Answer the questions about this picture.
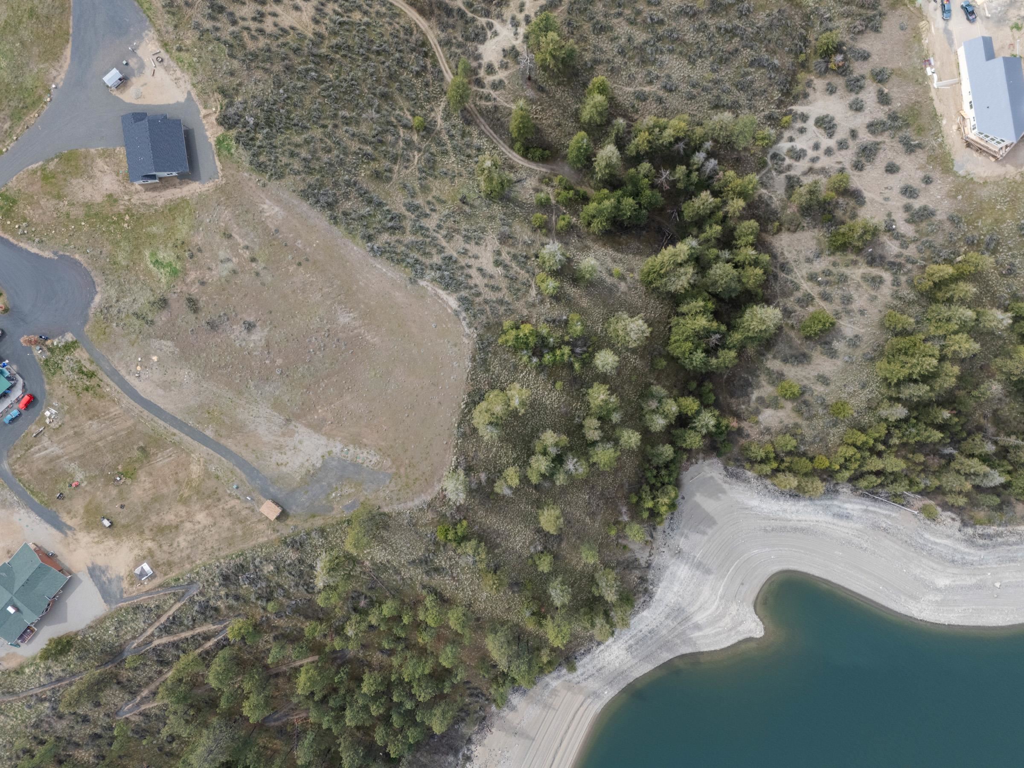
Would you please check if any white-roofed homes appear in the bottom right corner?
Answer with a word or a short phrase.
No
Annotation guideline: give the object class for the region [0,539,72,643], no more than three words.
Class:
building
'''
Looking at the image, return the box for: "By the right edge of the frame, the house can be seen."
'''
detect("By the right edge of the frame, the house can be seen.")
[956,36,1024,146]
